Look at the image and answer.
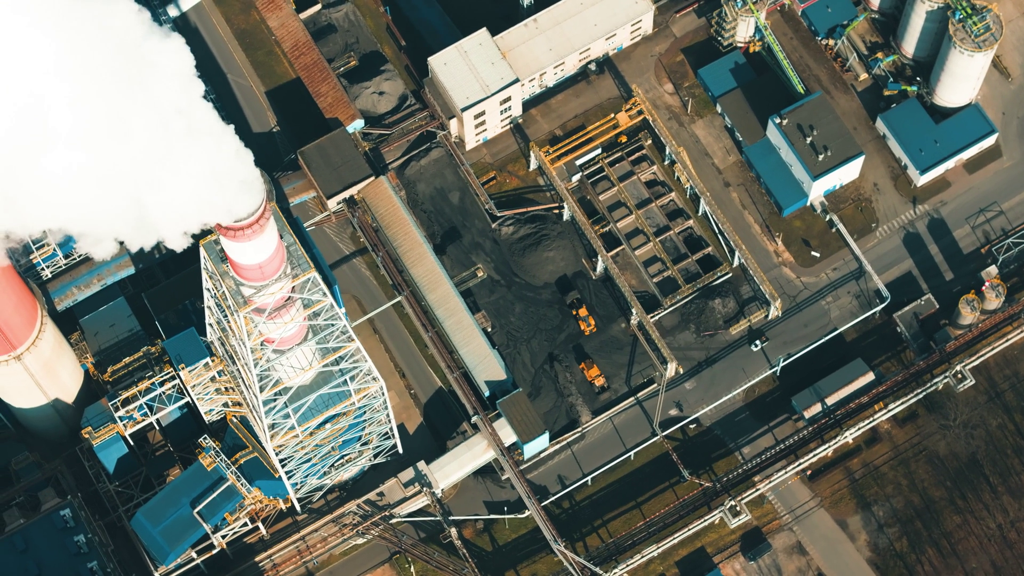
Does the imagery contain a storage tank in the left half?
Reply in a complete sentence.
No, looking in the left half, there is no storage tank.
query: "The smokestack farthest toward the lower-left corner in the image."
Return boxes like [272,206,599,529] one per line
[0,257,84,437]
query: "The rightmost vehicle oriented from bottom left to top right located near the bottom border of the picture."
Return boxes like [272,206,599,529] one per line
[744,540,775,566]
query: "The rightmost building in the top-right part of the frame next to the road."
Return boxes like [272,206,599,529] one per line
[873,97,1001,189]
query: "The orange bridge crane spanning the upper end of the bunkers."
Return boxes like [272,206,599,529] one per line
[533,85,651,171]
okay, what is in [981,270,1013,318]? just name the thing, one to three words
storage tank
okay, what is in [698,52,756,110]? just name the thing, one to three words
shed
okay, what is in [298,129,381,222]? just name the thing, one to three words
house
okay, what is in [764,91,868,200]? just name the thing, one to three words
building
